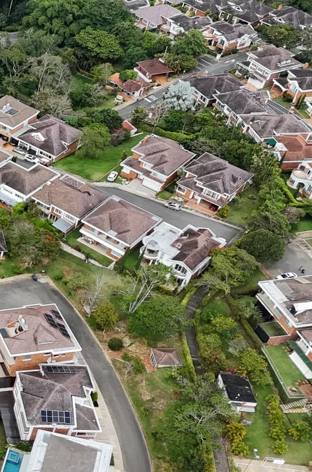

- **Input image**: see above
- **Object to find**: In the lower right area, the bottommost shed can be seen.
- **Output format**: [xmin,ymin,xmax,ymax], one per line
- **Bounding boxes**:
[215,374,258,411]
